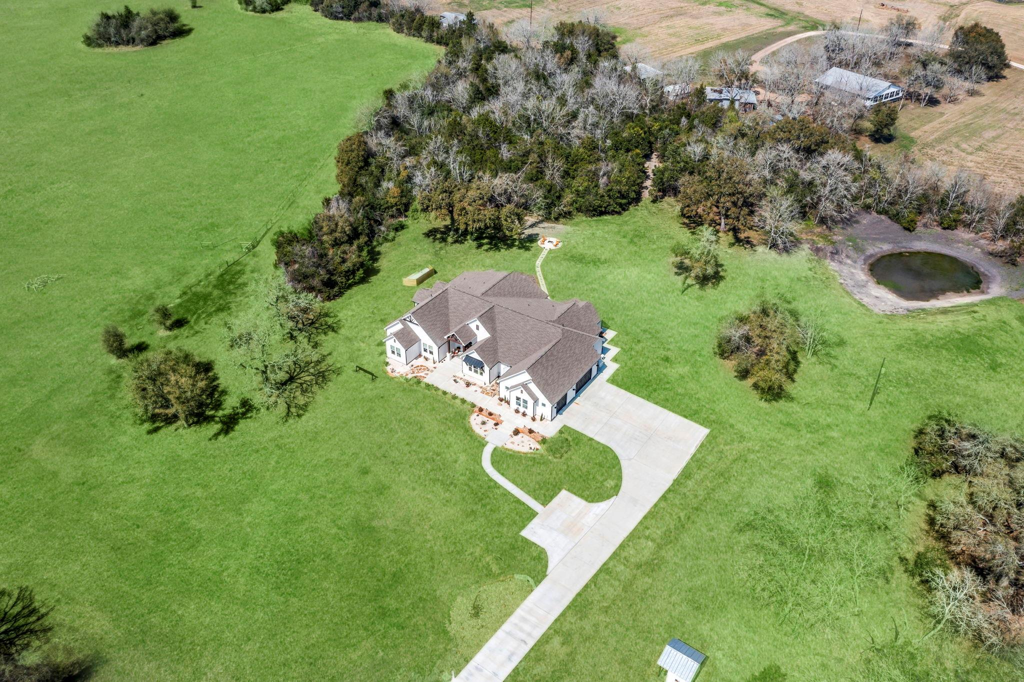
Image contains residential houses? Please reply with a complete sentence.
Yes, I can see a residential house in this picture.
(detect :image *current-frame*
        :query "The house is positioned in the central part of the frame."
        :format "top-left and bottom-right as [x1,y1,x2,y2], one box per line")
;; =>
[382,269,608,422]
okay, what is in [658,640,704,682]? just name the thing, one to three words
shed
